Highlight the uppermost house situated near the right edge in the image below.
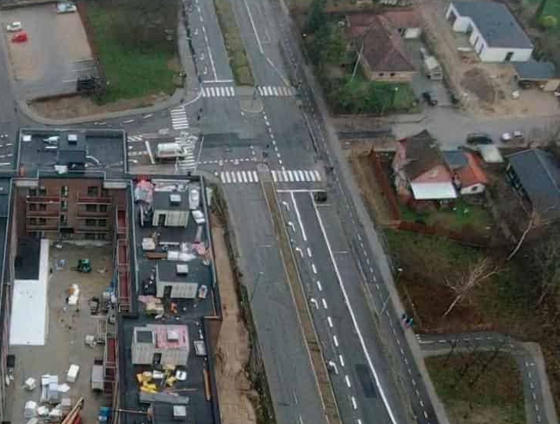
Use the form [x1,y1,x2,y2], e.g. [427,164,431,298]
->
[440,1,533,66]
